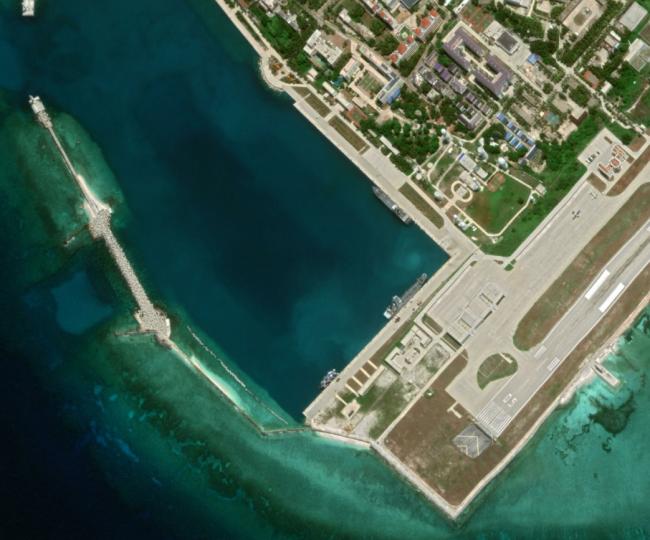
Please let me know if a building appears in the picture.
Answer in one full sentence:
Yes, you can see a building in this photo.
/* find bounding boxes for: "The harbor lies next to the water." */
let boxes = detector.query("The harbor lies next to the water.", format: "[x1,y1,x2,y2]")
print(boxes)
[215,0,480,422]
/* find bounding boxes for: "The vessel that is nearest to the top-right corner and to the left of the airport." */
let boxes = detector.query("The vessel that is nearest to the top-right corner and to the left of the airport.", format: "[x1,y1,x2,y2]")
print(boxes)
[373,187,413,224]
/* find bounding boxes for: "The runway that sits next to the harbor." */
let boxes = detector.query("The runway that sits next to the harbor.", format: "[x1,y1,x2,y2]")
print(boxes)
[476,217,650,437]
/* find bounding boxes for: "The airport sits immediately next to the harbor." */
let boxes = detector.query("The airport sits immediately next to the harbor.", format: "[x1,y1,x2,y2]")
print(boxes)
[414,124,650,459]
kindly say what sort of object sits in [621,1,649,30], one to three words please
building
